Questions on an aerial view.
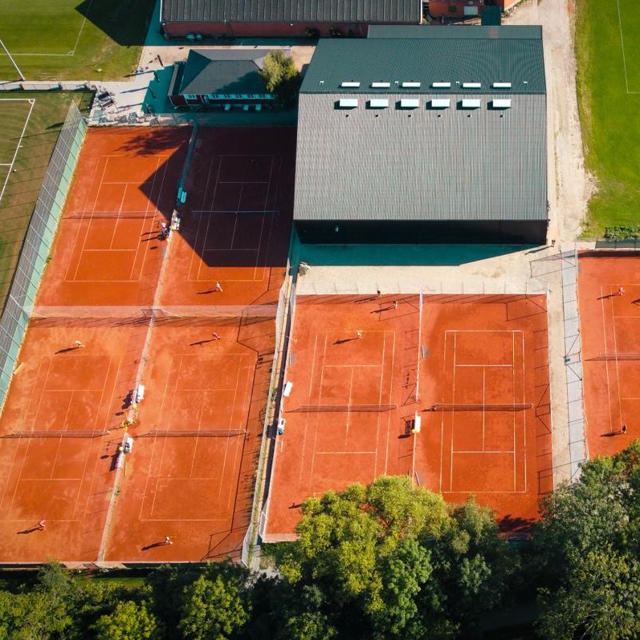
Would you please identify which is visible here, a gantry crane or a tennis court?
tennis court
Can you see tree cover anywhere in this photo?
Yes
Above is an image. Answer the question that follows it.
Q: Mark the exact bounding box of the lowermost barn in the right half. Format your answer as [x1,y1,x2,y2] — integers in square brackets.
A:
[293,25,548,244]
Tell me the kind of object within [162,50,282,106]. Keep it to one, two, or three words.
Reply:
building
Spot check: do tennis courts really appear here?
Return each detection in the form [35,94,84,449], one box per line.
[412,295,553,544]
[32,128,190,319]
[263,294,422,544]
[0,318,150,563]
[579,250,640,474]
[102,319,279,563]
[150,128,298,319]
